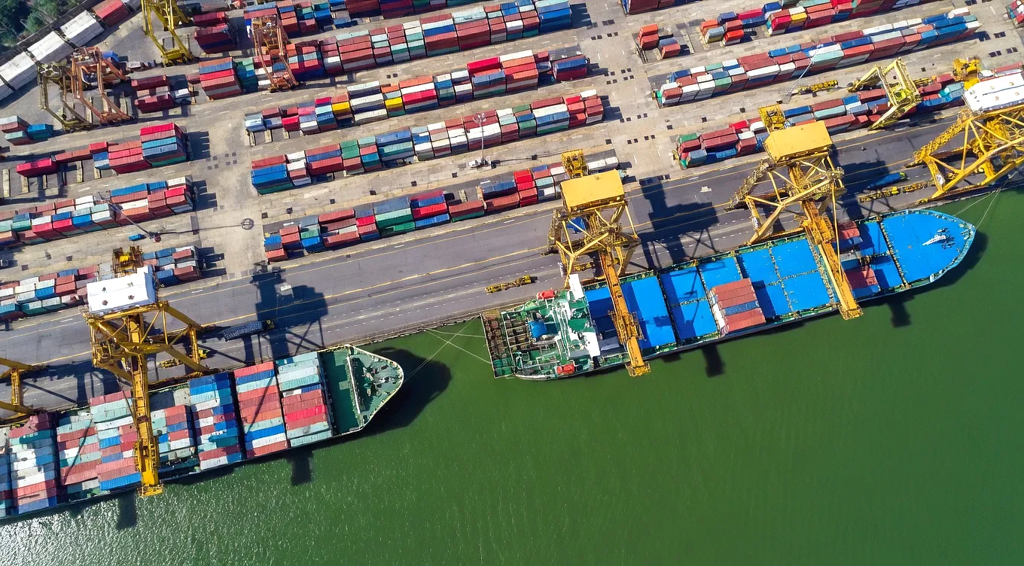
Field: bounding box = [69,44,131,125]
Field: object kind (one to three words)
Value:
container crane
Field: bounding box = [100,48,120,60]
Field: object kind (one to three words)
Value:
vehicle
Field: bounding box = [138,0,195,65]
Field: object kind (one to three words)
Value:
container crane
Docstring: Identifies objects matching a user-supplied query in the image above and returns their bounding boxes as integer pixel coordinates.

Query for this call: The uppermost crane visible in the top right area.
[849,55,920,131]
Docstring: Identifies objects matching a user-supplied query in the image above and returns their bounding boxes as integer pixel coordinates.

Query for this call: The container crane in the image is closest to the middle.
[543,149,652,379]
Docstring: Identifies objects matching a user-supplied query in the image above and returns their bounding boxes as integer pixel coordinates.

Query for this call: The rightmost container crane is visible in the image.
[906,61,1024,202]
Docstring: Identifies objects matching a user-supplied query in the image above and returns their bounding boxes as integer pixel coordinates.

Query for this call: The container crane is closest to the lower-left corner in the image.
[0,362,41,420]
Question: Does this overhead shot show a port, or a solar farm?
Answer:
port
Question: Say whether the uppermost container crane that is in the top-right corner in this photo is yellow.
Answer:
Yes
